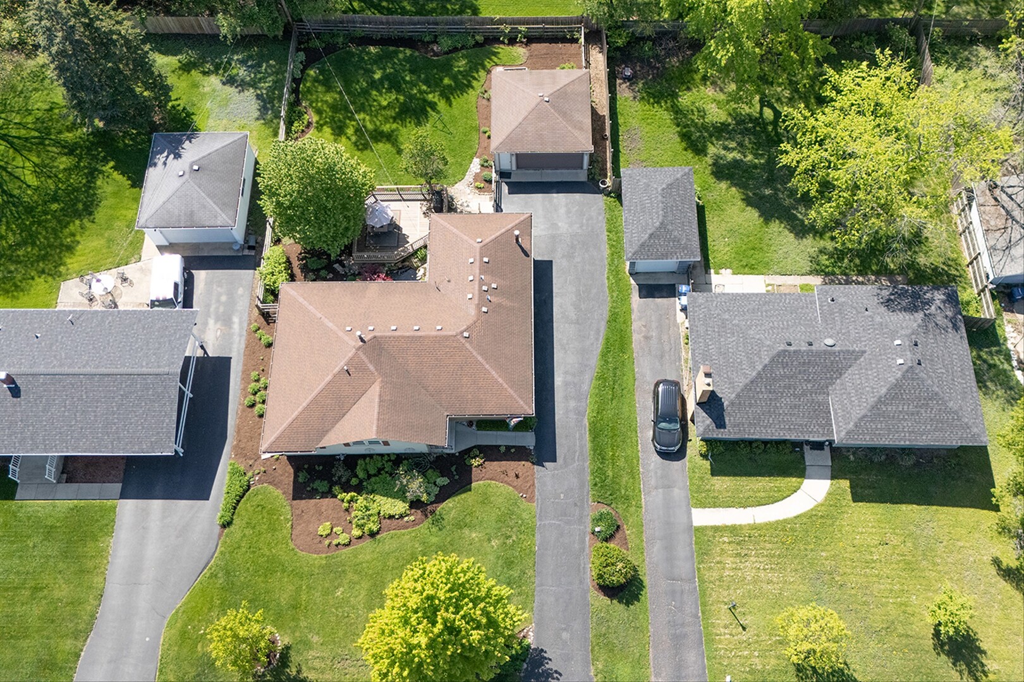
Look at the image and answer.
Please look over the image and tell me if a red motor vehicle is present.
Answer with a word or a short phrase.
No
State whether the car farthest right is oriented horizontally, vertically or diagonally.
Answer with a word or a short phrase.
vertically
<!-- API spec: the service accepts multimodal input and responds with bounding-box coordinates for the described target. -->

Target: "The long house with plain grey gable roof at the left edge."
[0,307,206,481]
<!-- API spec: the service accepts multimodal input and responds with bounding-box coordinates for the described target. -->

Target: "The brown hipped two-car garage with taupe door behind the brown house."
[490,68,594,169]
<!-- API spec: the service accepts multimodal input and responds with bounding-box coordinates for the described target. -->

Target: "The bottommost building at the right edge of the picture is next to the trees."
[683,284,989,466]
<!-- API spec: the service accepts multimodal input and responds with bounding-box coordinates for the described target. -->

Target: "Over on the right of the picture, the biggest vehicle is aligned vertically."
[650,381,687,456]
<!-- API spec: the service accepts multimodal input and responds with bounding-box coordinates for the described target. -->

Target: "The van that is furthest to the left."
[145,254,192,307]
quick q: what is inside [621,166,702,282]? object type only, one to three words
building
